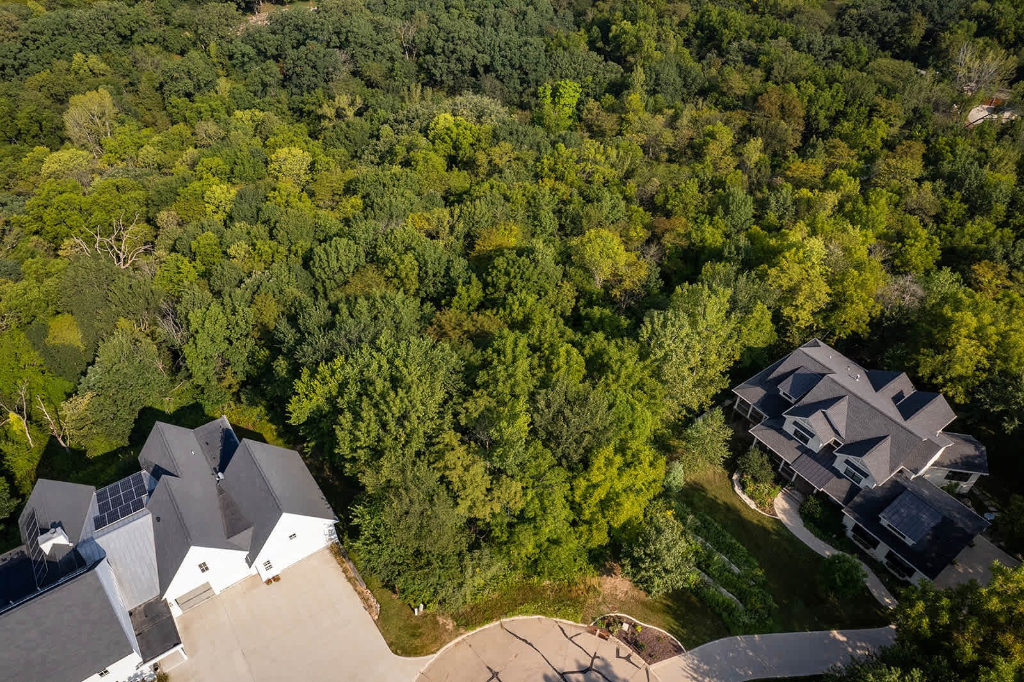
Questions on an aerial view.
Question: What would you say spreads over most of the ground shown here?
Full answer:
The scene is dominated by trees.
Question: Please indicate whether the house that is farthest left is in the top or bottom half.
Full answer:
The house that is farthest left sits in the bottom half of the picture.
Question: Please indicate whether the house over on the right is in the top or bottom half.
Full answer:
The house over on the right sits in the bottom half of the picture.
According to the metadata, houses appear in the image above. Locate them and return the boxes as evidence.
[0,416,341,682]
[729,337,991,586]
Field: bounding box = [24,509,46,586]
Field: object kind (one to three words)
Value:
solar array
